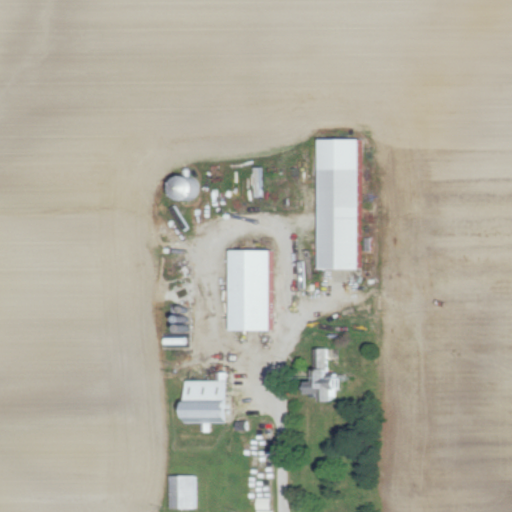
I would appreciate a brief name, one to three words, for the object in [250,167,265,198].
shed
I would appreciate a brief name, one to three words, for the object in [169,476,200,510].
shed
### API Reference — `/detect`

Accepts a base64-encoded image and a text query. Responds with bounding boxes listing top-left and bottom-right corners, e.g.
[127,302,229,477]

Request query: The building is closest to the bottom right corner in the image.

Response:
[300,348,342,402]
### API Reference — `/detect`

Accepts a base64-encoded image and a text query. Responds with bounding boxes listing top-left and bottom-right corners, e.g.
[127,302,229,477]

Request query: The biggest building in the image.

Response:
[316,138,362,270]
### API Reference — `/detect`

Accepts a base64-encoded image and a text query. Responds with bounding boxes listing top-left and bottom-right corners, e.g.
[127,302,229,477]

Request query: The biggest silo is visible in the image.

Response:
[165,174,200,202]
